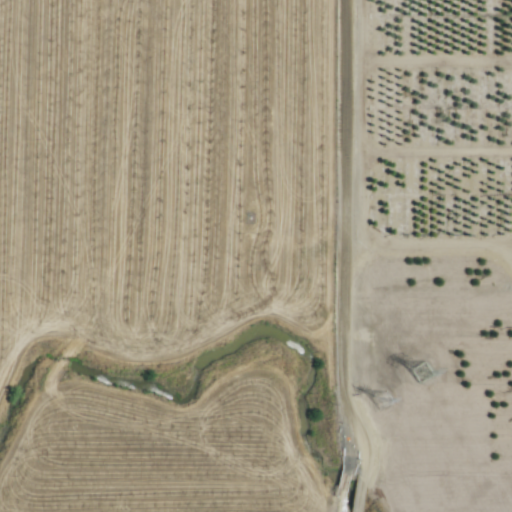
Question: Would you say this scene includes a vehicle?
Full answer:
No, the frame has no vehicle in it.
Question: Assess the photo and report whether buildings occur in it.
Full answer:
No, there isn't any building down there.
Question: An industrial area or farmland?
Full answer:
The area seen from above is farmland.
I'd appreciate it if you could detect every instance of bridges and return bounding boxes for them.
[336,446,360,491]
